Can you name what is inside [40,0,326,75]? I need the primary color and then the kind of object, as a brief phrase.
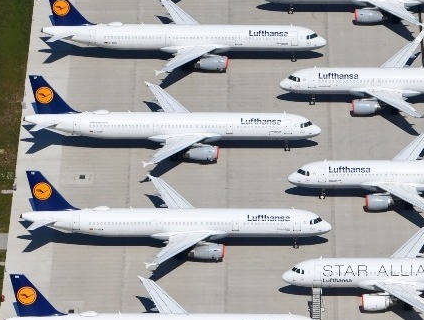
white airplane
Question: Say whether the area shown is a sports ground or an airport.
airport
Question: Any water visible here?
No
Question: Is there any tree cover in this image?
No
